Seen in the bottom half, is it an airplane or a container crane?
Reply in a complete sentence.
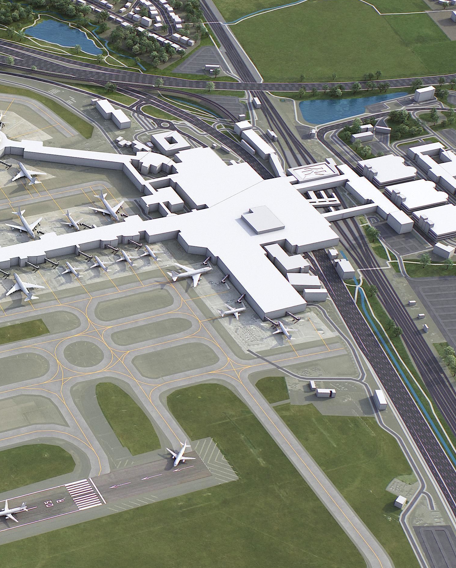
What appears in the bottom half is an airplane.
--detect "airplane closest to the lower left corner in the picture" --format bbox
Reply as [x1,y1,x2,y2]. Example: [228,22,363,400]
[0,497,28,521]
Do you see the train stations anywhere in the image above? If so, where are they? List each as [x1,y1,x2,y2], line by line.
[287,162,338,183]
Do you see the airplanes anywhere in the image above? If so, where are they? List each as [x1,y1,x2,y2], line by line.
[63,211,84,230]
[63,262,88,278]
[169,261,212,285]
[11,162,50,184]
[168,443,197,466]
[90,256,114,272]
[141,245,164,261]
[273,321,299,339]
[117,250,140,266]
[5,208,43,238]
[5,272,48,302]
[89,192,125,221]
[0,497,28,521]
[218,303,246,319]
